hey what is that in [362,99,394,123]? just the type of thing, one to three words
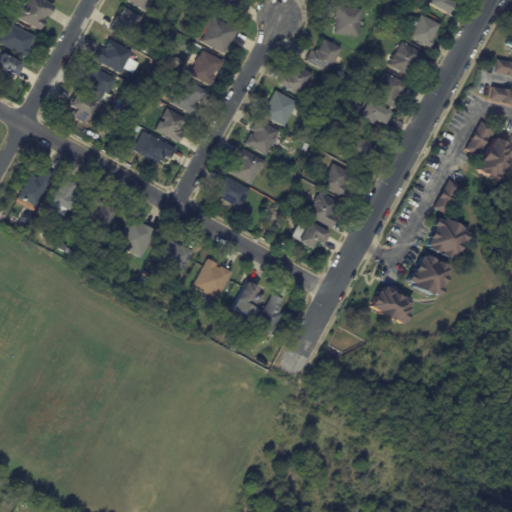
house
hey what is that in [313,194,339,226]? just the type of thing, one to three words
house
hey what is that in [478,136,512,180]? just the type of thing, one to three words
building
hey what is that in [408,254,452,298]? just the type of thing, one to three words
building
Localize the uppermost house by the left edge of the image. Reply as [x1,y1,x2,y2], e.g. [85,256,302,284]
[18,0,54,31]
